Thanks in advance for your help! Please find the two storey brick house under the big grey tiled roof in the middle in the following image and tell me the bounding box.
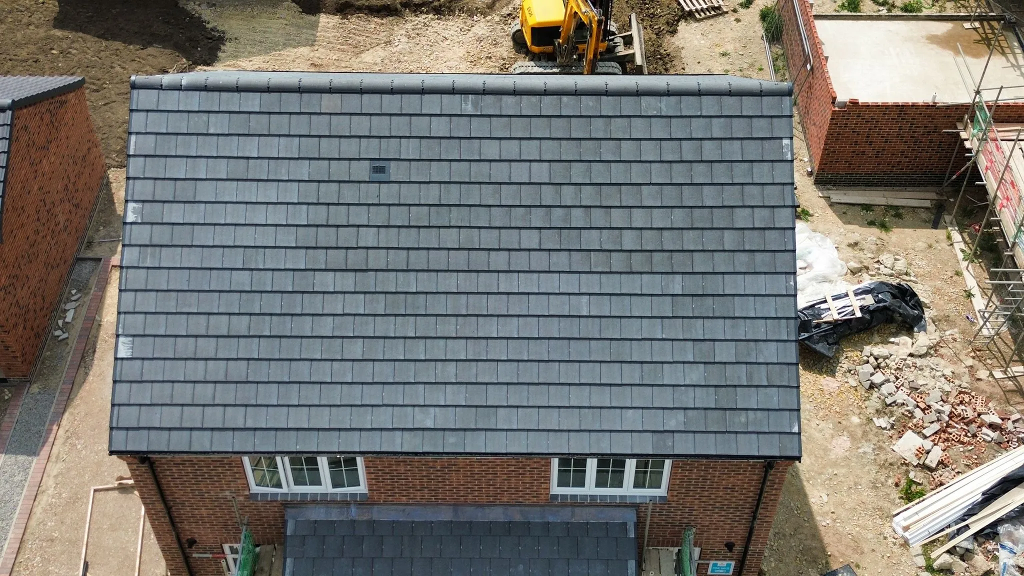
[107,69,803,576]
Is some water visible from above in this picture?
No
